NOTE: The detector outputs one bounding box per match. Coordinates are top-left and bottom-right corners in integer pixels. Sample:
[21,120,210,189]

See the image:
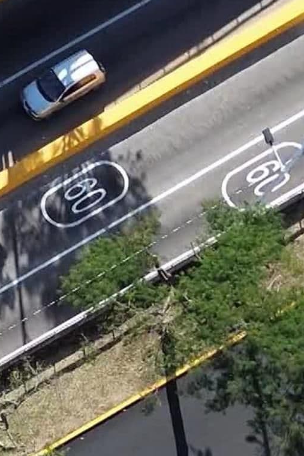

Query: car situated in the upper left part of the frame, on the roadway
[17,46,110,120]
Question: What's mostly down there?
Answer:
paved ground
